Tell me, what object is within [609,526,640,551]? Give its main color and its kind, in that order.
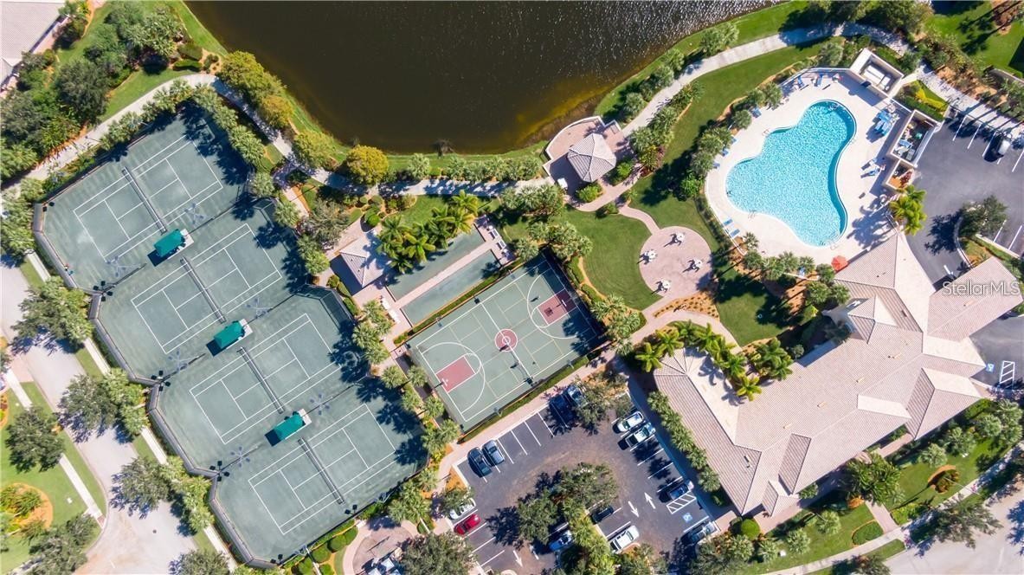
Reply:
white car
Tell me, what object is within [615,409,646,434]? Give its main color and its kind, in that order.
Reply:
white car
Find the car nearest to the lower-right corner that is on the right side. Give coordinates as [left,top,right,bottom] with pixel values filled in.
[689,520,719,544]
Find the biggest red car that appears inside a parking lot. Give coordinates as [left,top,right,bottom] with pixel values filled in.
[454,512,482,534]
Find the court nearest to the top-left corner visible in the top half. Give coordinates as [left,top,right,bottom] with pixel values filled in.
[43,106,266,291]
